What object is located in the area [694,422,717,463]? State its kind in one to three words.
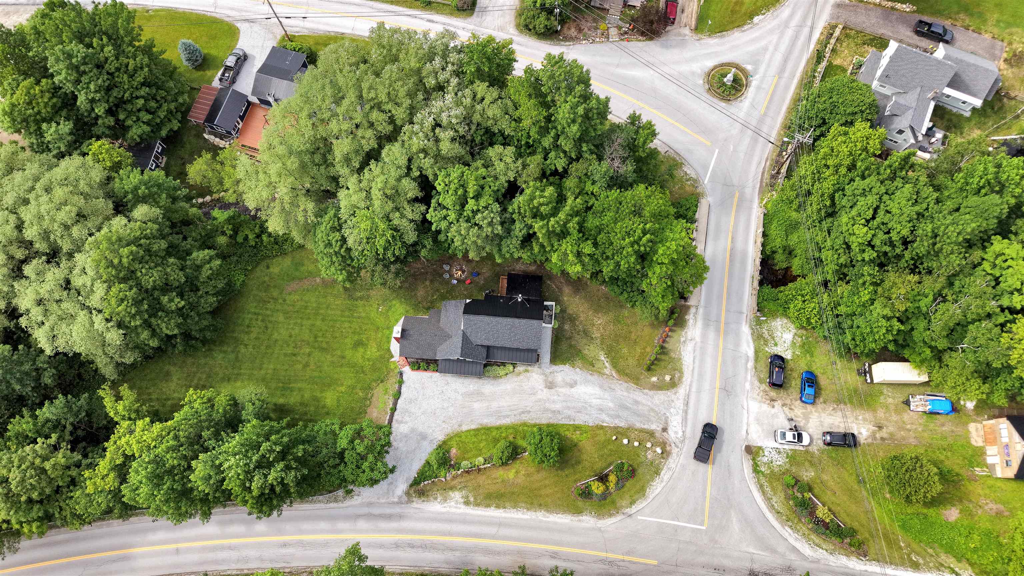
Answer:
truck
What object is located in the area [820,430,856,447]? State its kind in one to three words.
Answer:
car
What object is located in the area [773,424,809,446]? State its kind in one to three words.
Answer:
car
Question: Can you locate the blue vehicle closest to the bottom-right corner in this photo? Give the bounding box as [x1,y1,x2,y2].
[798,371,816,405]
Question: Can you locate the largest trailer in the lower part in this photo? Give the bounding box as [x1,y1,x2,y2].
[863,362,928,383]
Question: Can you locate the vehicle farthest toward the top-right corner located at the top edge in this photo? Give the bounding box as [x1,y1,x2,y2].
[913,21,952,43]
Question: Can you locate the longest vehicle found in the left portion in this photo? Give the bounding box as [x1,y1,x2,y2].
[220,49,245,85]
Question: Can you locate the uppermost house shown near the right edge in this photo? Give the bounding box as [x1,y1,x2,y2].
[858,40,1002,145]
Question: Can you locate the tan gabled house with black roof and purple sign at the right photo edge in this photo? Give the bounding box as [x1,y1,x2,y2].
[982,415,1024,481]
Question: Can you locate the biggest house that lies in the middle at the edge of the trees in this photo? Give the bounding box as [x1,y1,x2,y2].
[393,294,555,377]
